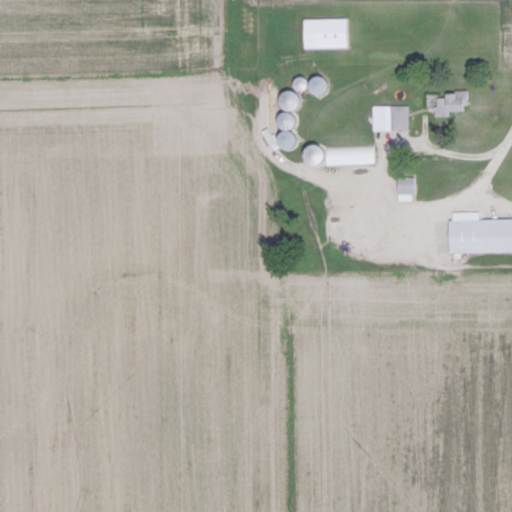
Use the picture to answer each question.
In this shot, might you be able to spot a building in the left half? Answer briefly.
No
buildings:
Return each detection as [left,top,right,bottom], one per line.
[449,212,512,254]
[426,90,472,118]
[398,178,414,202]
[372,106,409,132]
[304,19,347,50]
[326,148,375,166]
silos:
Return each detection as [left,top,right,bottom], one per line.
[277,130,300,153]
[278,90,302,114]
[308,76,330,98]
[292,76,308,94]
[276,112,298,132]
[302,144,326,168]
